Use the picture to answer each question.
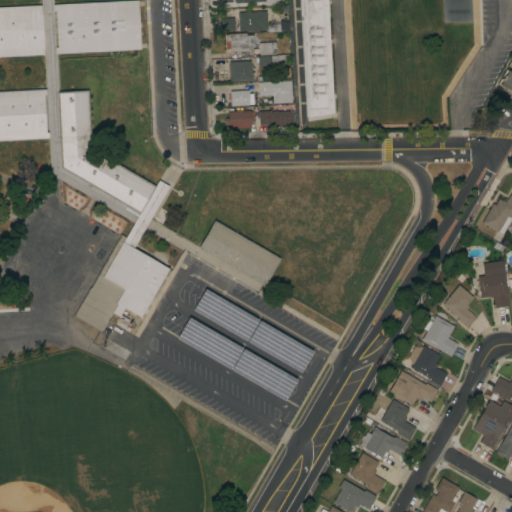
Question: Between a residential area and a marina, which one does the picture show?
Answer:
residential area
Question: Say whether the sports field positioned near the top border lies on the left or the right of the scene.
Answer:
right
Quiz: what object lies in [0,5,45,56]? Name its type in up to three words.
building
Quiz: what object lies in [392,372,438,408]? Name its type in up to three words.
house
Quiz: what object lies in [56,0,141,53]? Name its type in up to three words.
building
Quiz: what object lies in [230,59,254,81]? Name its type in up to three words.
house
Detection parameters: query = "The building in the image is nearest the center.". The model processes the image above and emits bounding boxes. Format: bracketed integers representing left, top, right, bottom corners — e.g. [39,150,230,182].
[202,222,282,288]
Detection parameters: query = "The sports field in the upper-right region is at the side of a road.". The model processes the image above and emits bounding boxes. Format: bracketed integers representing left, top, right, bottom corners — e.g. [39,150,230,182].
[353,0,474,124]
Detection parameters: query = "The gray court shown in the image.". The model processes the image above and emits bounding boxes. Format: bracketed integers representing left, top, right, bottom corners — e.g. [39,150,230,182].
[444,0,474,22]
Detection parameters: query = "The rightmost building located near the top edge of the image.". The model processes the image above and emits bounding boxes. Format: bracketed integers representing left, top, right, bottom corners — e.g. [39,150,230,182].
[302,0,338,122]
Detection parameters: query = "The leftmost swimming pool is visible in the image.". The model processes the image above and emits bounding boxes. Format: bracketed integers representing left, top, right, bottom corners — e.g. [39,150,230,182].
[466,246,490,261]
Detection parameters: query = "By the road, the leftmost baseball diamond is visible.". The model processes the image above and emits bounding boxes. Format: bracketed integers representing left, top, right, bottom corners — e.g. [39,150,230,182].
[0,348,206,512]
